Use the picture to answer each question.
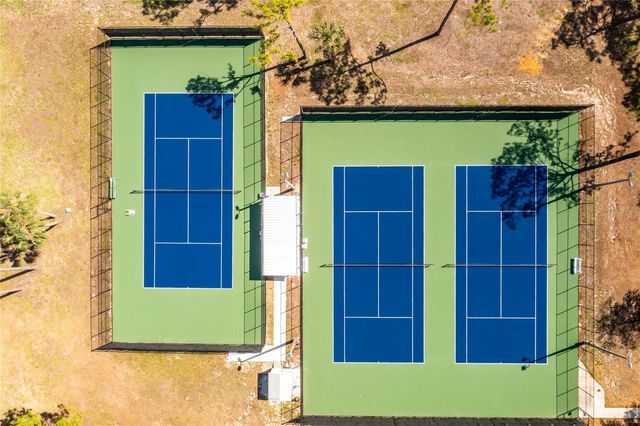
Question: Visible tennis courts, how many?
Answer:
3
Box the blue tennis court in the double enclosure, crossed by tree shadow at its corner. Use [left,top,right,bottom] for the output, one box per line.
[440,112,579,417]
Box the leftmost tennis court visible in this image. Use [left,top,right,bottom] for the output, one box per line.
[111,37,266,344]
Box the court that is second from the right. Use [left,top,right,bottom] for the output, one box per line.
[302,112,440,417]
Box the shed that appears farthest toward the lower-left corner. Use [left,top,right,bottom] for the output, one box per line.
[269,368,292,403]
